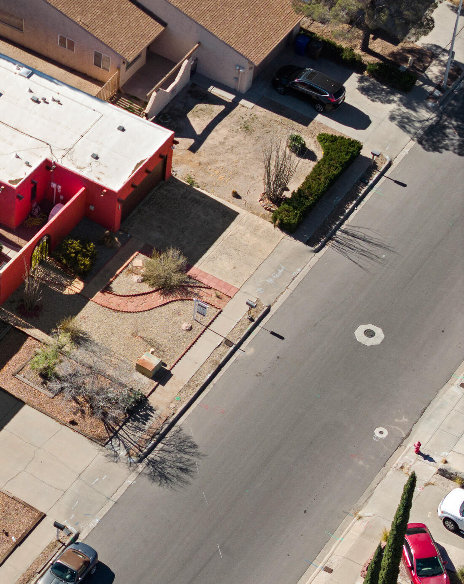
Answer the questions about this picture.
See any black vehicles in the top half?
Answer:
Yes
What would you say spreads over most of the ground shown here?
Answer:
paved ground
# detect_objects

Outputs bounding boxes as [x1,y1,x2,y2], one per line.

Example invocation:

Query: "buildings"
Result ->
[0,53,180,234]
[0,0,303,92]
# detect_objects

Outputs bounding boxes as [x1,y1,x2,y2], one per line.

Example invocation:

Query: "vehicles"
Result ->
[409,521,454,584]
[37,541,99,584]
[270,64,350,112]
[438,487,464,529]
